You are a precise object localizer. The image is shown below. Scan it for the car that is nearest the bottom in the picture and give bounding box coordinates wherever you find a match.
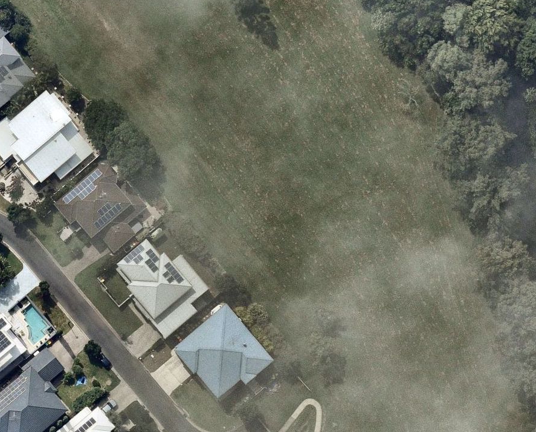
[100,396,120,415]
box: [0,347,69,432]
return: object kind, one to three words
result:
house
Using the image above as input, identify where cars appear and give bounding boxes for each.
[96,350,116,373]
[100,396,120,415]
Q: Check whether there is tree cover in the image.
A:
Yes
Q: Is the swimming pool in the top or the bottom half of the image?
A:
bottom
